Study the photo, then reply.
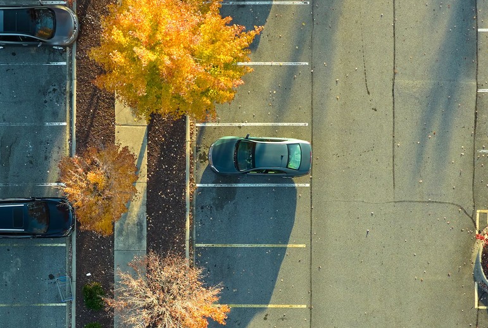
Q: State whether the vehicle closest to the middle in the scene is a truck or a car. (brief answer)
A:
car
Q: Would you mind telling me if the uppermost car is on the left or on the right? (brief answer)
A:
left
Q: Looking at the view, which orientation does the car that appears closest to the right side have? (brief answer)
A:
horizontally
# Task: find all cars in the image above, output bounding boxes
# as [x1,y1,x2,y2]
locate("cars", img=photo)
[0,0,82,50]
[0,191,81,244]
[204,131,311,181]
